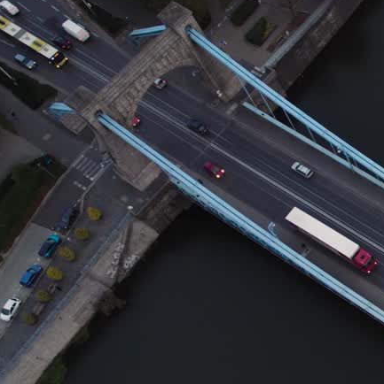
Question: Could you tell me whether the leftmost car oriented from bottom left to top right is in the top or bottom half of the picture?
bottom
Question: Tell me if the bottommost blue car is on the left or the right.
left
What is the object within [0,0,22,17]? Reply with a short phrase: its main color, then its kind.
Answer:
white car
